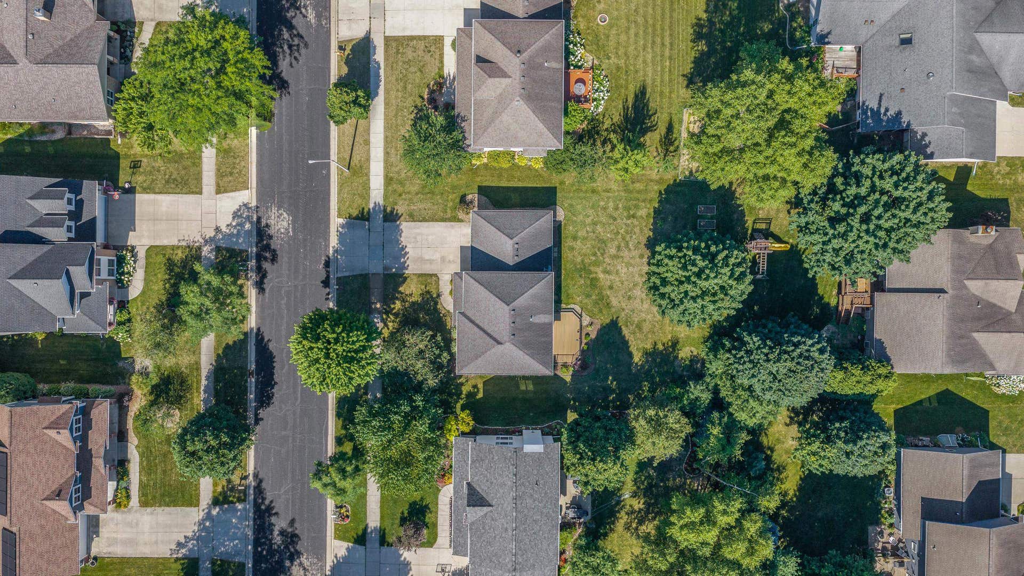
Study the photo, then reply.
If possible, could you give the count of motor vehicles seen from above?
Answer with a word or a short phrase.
0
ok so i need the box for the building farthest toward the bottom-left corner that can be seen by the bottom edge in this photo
[0,395,116,576]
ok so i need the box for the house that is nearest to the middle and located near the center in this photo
[452,209,554,376]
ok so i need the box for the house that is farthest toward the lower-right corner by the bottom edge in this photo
[890,435,1024,576]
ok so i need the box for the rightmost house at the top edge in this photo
[806,0,1024,175]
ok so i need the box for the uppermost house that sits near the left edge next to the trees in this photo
[0,0,120,125]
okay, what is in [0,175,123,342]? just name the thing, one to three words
house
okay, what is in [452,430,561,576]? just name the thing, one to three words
house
